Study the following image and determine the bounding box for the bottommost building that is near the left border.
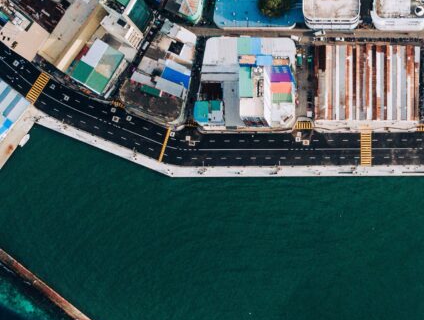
[0,81,37,153]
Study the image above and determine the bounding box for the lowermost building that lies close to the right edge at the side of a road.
[315,43,419,121]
